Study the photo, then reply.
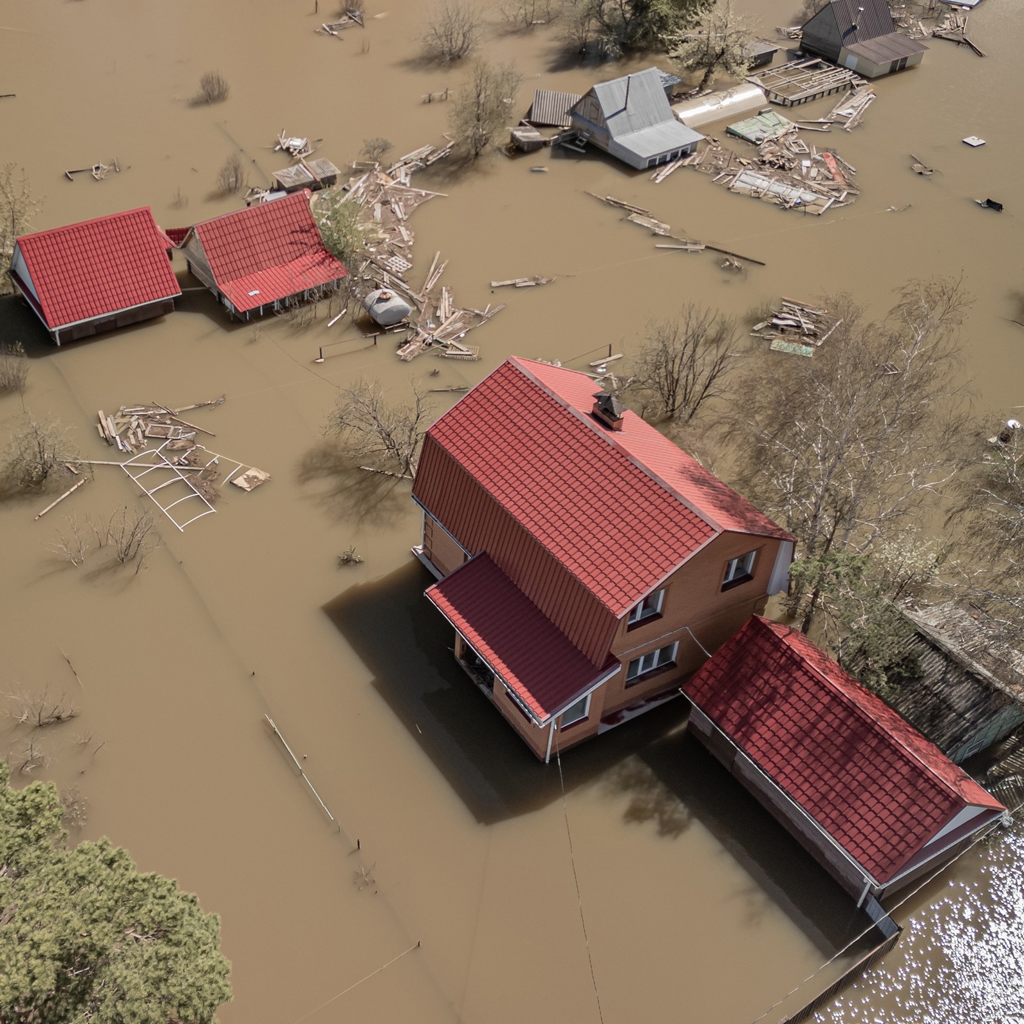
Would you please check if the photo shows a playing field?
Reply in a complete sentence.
No, no playing field is visible in the scene.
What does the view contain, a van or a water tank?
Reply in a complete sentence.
The image shows a water tank.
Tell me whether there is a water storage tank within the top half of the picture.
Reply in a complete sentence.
Yes, looking within the top half of the picture, one can make out a water storage tank.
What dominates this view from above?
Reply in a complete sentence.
The scene is dominated by water.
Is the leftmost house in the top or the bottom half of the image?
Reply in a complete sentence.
The top half of the photo is where the leftmost house is.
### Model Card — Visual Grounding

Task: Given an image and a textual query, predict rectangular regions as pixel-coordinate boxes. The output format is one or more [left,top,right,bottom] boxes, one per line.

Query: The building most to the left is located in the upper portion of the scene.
[8,205,185,345]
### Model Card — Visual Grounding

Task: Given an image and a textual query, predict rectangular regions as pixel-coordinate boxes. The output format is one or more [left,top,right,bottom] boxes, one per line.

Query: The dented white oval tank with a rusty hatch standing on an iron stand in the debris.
[359,292,418,341]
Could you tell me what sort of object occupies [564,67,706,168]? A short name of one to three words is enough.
house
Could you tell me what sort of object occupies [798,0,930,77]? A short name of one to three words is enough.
house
